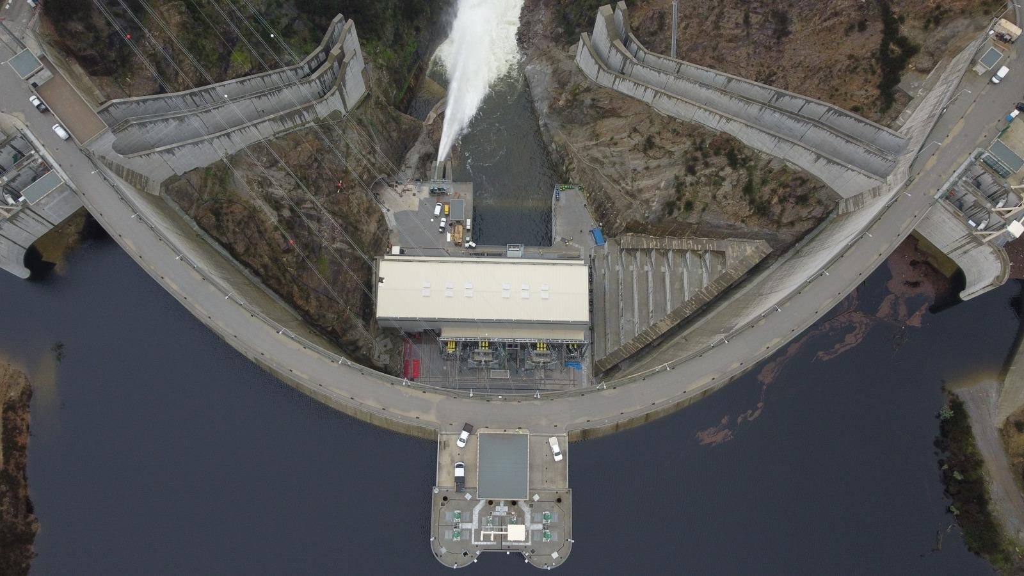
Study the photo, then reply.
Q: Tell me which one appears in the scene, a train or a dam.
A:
dam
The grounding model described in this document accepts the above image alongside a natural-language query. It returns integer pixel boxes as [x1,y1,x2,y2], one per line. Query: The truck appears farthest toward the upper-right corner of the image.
[993,18,1024,44]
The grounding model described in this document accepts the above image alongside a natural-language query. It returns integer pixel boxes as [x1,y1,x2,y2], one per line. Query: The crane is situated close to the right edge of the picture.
[967,184,1024,251]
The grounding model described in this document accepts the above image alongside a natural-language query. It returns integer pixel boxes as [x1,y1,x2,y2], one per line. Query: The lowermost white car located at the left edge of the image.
[48,121,70,140]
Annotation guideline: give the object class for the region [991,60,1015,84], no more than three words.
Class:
vehicle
